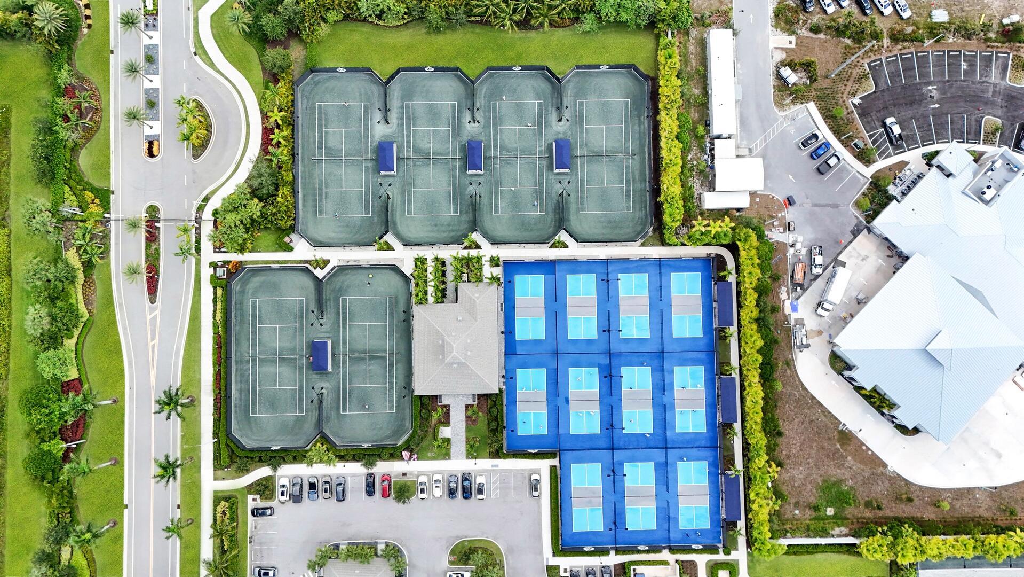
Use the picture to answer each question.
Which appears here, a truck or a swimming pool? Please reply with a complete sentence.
This aerial view contains a truck.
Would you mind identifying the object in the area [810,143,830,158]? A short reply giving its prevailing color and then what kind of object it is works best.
blue car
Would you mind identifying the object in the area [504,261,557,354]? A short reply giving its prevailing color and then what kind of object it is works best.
blue sports court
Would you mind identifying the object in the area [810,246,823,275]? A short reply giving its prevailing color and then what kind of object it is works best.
white vehicle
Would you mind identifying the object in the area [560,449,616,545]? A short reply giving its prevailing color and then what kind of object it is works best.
blue sports court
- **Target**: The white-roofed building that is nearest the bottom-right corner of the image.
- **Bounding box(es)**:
[833,141,1024,444]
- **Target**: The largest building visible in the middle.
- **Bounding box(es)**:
[414,282,499,395]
